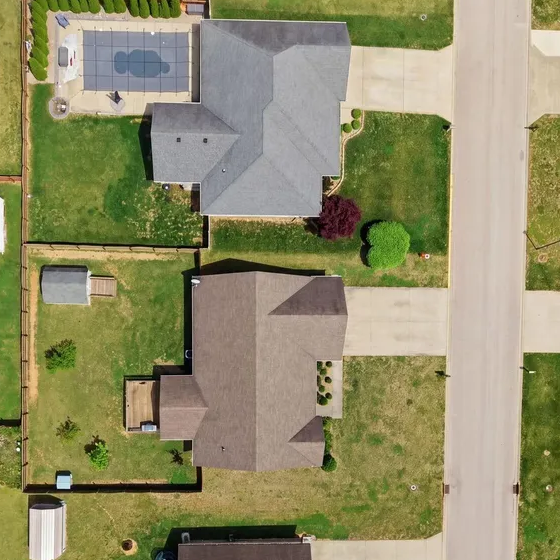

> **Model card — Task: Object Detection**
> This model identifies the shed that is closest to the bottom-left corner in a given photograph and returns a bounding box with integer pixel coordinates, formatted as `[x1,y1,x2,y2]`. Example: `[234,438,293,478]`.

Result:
[30,506,66,560]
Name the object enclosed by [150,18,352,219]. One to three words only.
house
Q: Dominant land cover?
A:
grass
